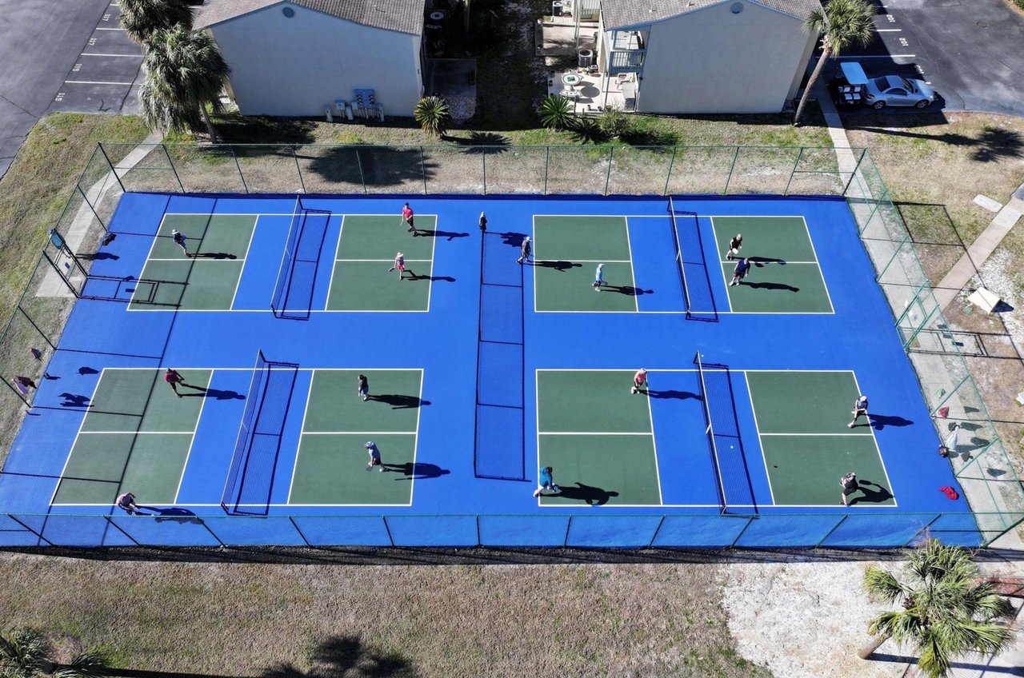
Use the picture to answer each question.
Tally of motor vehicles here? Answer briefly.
two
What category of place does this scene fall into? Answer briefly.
sports ground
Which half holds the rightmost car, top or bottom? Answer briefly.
top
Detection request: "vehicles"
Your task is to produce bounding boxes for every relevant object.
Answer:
[828,62,871,112]
[860,72,938,107]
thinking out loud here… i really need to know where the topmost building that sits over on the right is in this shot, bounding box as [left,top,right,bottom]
[580,0,824,114]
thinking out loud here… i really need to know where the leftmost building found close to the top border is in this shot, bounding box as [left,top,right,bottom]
[192,0,434,114]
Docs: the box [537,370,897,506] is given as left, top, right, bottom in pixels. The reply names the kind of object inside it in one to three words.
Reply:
sports court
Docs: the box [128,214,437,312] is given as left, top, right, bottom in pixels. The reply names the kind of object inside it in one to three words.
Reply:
sports court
